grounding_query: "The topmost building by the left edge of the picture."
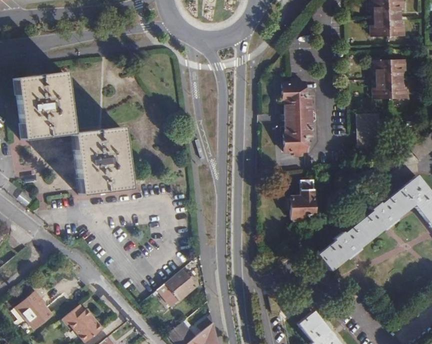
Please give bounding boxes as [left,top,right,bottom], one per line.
[14,72,78,140]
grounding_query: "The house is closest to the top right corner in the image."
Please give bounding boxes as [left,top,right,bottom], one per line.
[369,0,406,37]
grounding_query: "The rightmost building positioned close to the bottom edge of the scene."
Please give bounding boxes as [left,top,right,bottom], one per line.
[296,310,343,344]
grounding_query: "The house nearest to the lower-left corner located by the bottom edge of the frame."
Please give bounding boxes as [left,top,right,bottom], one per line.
[8,290,54,332]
